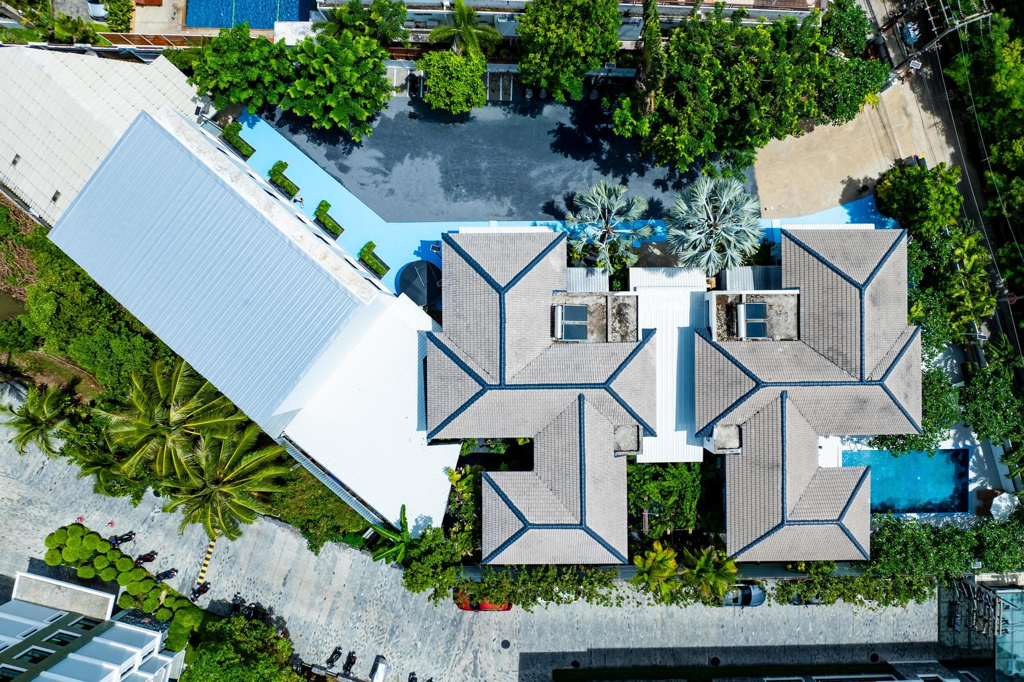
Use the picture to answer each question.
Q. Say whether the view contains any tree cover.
Yes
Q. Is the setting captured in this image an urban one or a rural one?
urban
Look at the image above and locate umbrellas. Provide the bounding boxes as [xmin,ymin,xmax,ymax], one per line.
[398,261,441,305]
[973,493,1012,520]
